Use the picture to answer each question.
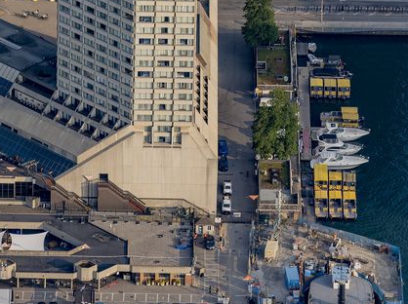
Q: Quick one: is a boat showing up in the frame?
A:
Yes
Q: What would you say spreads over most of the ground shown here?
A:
buildings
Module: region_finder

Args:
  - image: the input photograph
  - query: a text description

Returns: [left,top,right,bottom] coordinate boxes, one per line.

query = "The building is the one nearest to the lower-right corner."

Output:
[258,159,301,213]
